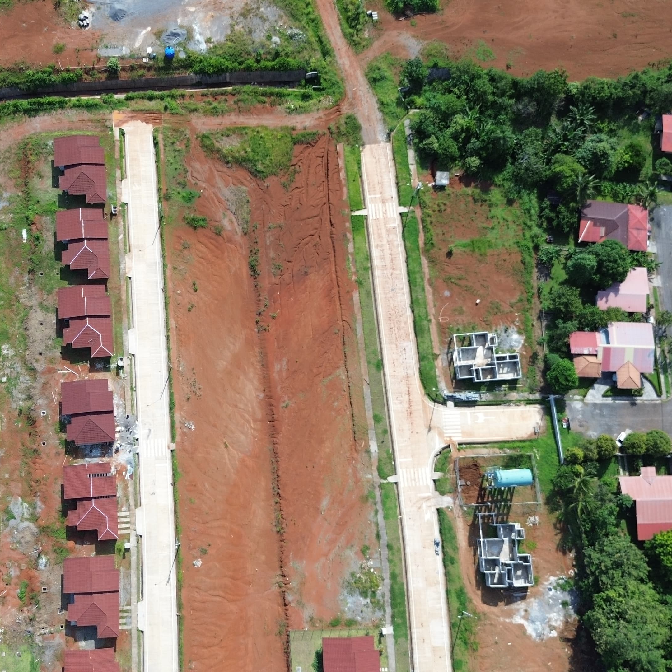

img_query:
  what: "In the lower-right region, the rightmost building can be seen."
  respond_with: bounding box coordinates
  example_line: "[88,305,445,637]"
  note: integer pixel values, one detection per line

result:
[616,467,672,540]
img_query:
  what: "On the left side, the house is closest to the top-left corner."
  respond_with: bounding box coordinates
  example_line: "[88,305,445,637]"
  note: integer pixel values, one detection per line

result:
[52,135,107,205]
